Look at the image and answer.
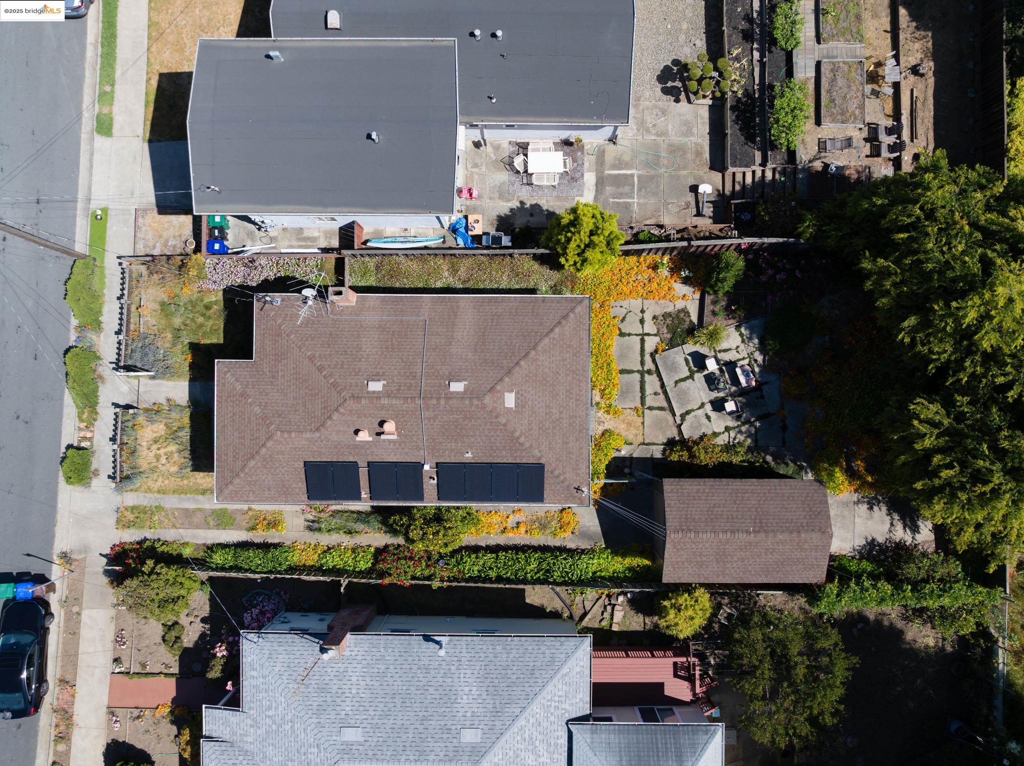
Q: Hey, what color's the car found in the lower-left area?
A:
black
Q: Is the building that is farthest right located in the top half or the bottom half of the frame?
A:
bottom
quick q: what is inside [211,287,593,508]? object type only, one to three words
house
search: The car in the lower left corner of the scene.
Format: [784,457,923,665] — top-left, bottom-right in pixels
[0,600,55,726]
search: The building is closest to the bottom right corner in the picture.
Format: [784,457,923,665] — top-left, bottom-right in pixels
[650,476,839,583]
